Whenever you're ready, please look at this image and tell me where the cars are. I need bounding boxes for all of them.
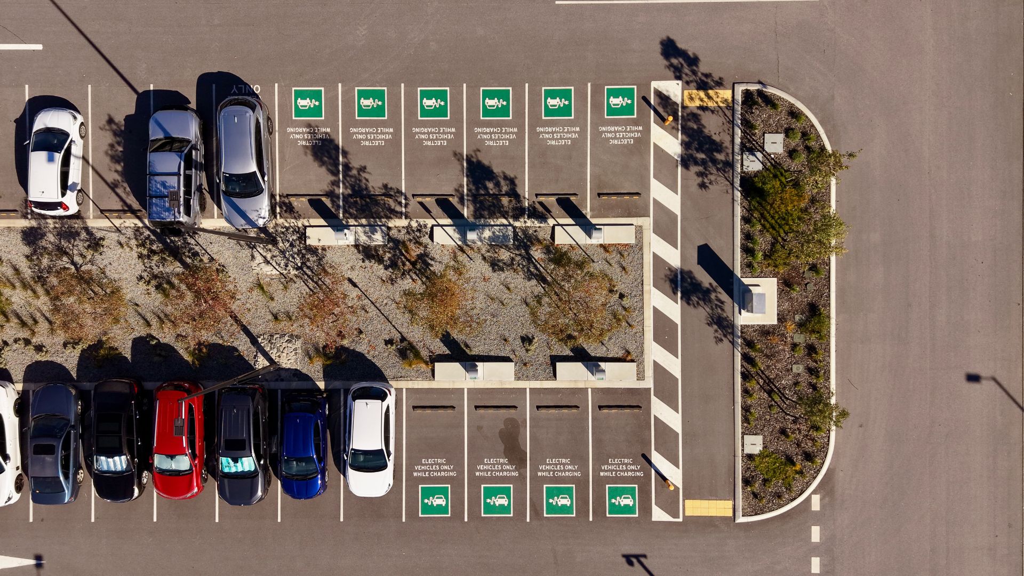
[144,378,207,499]
[216,100,275,229]
[142,105,206,232]
[20,381,83,505]
[210,380,271,505]
[0,381,24,505]
[342,380,397,496]
[273,393,328,498]
[83,377,148,502]
[23,107,86,216]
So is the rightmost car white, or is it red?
white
